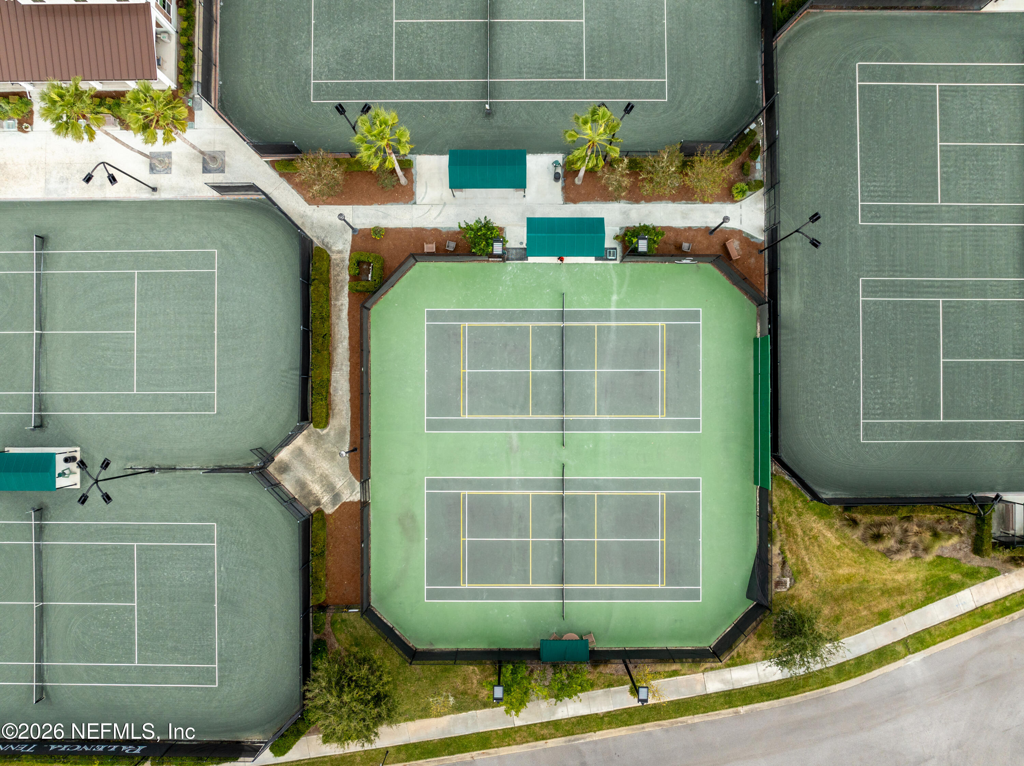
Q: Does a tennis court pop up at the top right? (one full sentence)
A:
Yes, at the top right there is a tennis court.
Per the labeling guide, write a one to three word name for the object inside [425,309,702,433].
sports court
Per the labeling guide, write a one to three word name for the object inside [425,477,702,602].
sports court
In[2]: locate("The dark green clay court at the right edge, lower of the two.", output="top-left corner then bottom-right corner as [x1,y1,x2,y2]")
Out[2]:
[773,251,1024,499]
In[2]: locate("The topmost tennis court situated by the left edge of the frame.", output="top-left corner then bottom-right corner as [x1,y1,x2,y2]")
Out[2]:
[0,195,307,468]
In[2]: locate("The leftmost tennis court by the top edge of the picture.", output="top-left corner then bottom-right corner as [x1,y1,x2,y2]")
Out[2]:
[219,0,763,156]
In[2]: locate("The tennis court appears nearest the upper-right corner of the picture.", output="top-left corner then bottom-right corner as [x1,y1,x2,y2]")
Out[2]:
[766,12,1024,251]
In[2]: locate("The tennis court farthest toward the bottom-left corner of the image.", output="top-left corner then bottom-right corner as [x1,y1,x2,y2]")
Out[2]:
[0,468,310,739]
